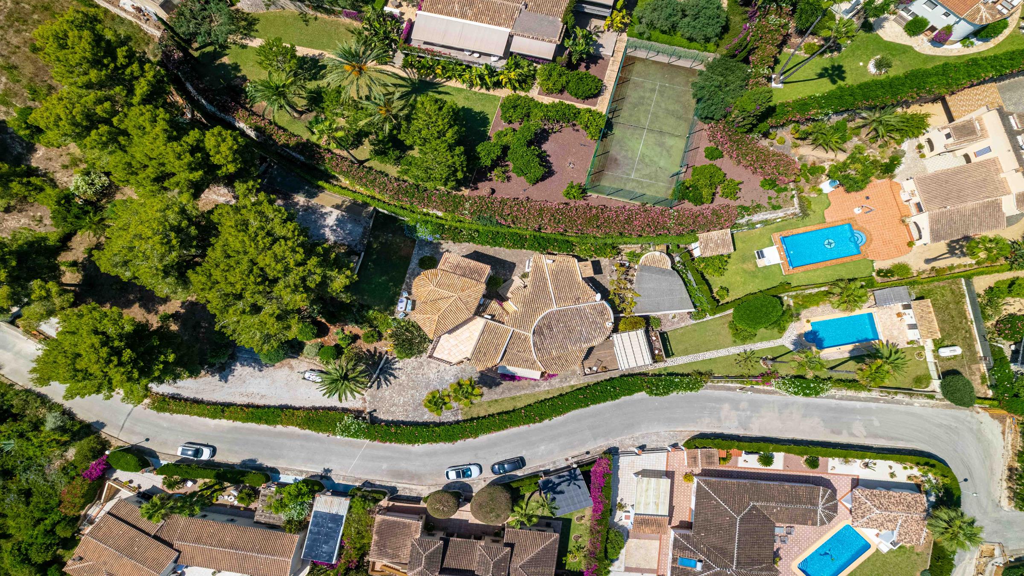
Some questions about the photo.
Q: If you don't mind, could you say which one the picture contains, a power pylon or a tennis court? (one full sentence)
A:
This aerial view contains a tennis court.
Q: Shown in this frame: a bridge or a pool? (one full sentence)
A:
The one in the frame is a pool.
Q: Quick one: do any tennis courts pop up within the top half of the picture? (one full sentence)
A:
Yes, a tennis court can be seen within the top half of the picture.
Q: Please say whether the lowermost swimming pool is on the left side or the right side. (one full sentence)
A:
The lowermost swimming pool sits on the right side.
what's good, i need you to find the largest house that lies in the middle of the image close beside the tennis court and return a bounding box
[411,252,615,379]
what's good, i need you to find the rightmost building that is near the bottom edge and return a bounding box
[835,487,927,554]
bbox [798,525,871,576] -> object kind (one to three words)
swimming pool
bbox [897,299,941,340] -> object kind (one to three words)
building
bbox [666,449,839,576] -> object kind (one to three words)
house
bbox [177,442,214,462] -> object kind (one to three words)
car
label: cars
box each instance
[445,462,481,481]
[177,442,214,462]
[491,456,526,476]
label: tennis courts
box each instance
[587,49,703,206]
